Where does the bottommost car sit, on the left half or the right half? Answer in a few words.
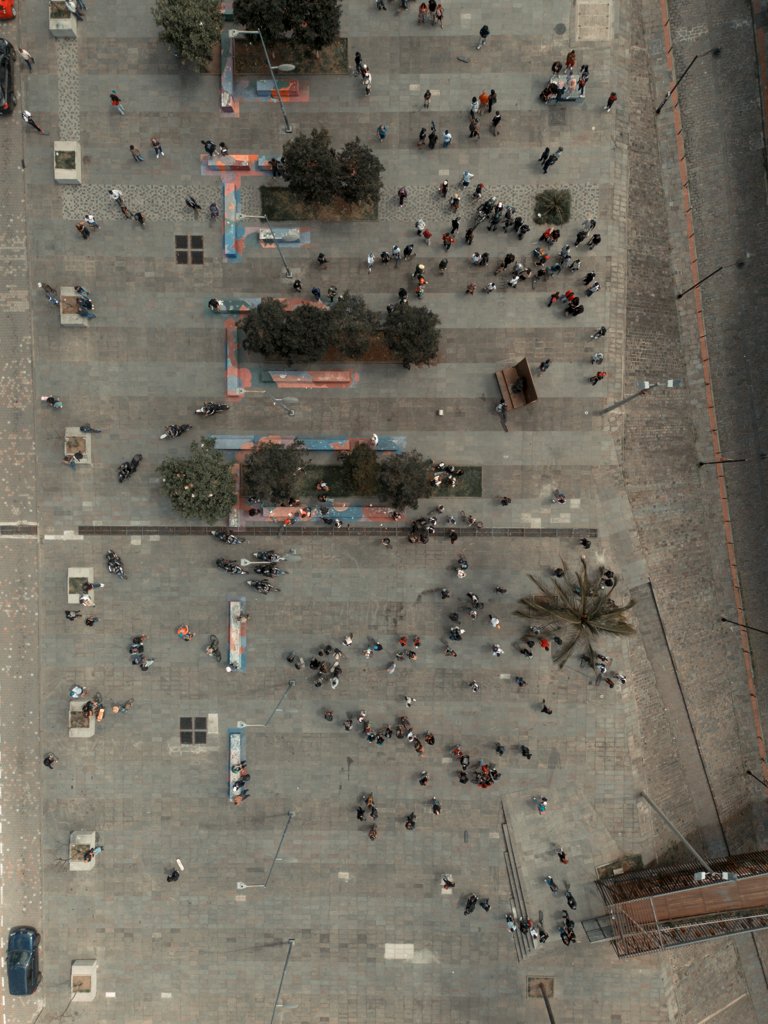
left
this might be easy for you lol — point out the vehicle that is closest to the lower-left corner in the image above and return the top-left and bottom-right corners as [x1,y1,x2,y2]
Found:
[0,929,39,992]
